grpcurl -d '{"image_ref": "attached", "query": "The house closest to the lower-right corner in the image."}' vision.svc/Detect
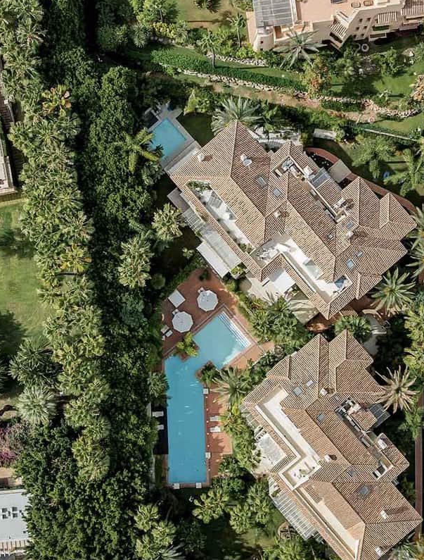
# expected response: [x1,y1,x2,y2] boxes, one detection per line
[238,330,423,560]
